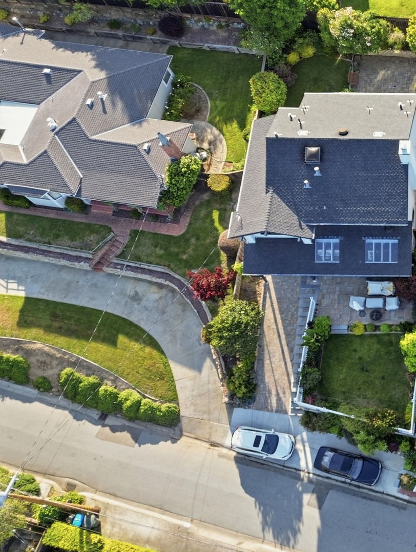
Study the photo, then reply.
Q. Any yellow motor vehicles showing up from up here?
No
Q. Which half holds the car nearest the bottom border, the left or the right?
right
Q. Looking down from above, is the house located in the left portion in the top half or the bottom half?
top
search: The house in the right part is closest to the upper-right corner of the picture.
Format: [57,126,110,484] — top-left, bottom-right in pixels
[226,92,416,288]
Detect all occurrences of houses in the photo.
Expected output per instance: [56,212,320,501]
[226,92,416,288]
[0,20,197,217]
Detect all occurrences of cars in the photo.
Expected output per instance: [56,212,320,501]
[228,425,298,465]
[314,447,384,490]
